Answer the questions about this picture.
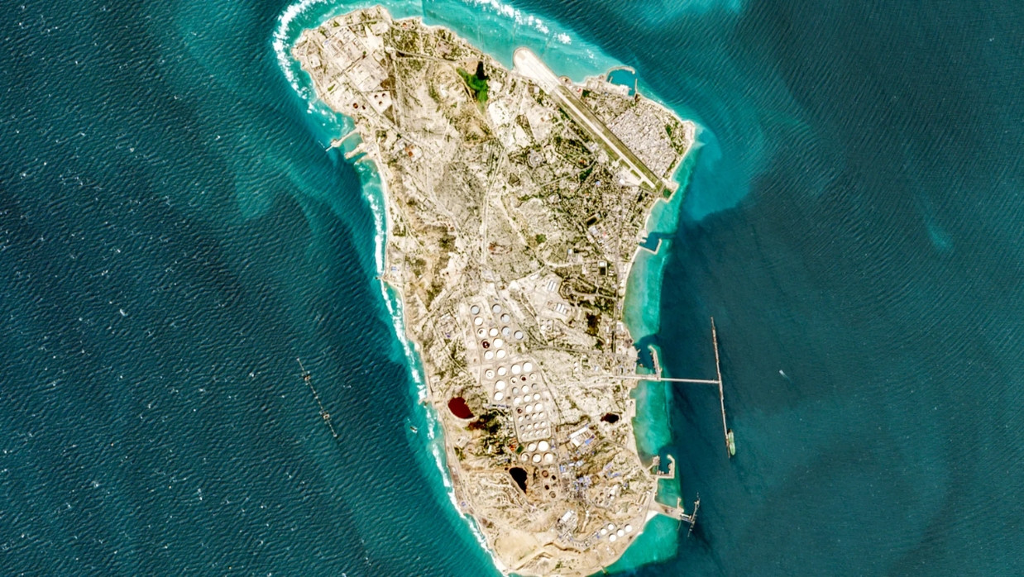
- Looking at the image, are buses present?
No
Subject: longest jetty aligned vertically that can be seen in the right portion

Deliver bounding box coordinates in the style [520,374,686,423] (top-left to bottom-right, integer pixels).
[653,317,730,458]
